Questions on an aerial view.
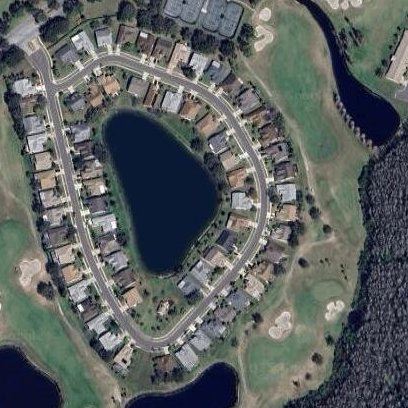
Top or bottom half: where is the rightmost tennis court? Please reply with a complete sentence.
The rightmost tennis court is in the top half of the image.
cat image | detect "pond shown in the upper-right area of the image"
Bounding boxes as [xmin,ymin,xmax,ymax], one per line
[298,0,399,144]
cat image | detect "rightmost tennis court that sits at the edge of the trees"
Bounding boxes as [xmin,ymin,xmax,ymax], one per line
[220,0,247,38]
